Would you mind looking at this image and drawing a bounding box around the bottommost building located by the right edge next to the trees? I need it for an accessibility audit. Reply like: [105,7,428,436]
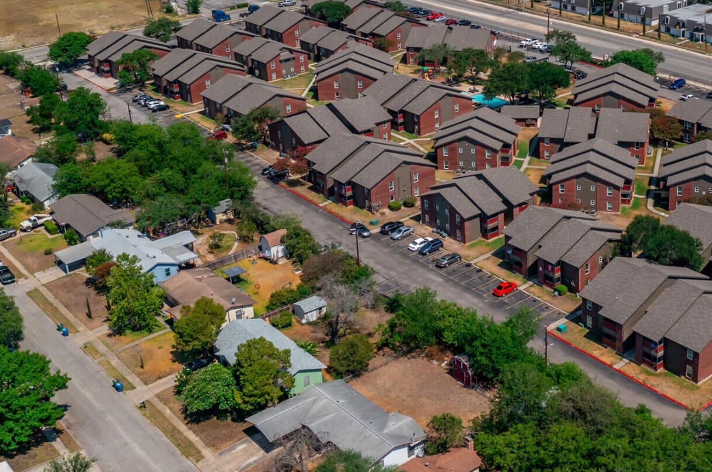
[580,257,712,383]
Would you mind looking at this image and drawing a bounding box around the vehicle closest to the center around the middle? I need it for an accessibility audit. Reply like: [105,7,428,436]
[350,223,372,238]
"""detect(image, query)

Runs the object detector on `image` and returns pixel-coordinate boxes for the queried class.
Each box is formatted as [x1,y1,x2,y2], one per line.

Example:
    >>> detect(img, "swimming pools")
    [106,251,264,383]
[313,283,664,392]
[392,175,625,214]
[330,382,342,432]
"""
[459,94,504,107]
